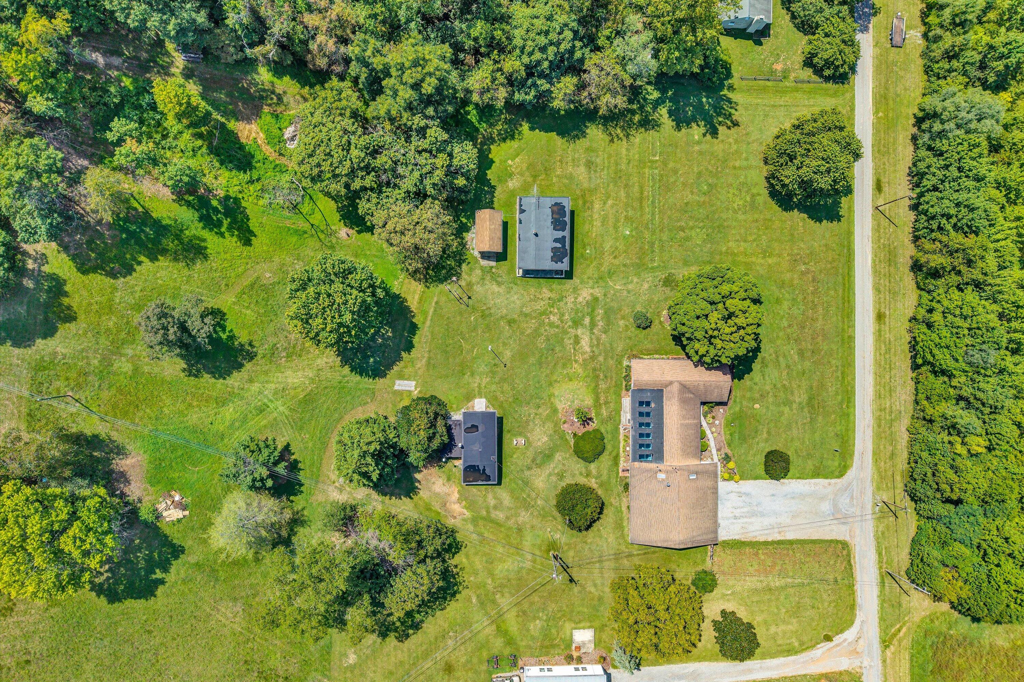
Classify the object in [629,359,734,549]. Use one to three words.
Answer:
house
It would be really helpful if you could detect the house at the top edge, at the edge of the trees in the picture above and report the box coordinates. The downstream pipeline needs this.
[719,0,772,40]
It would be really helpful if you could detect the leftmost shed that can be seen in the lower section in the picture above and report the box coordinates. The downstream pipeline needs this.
[444,399,497,484]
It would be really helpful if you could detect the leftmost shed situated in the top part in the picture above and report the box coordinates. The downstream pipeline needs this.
[475,209,503,266]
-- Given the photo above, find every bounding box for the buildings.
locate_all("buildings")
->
[629,359,734,549]
[444,399,497,484]
[525,667,604,682]
[719,0,772,40]
[517,196,570,277]
[475,209,503,266]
